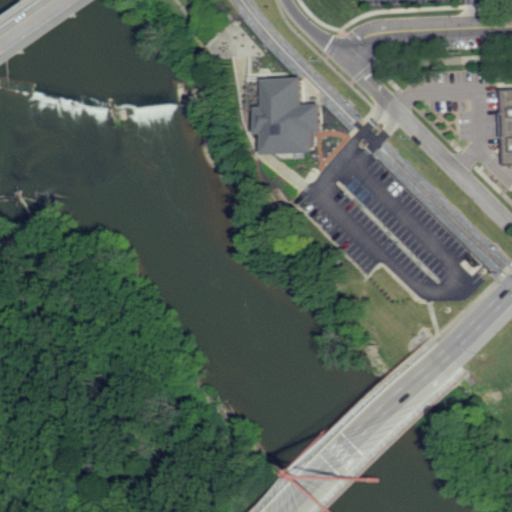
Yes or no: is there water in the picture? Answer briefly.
Yes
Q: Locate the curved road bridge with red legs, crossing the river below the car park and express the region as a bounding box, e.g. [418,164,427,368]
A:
[249,292,512,512]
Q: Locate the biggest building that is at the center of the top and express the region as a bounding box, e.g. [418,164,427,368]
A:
[251,76,317,153]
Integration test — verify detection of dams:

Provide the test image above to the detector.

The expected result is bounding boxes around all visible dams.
[0,78,189,134]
